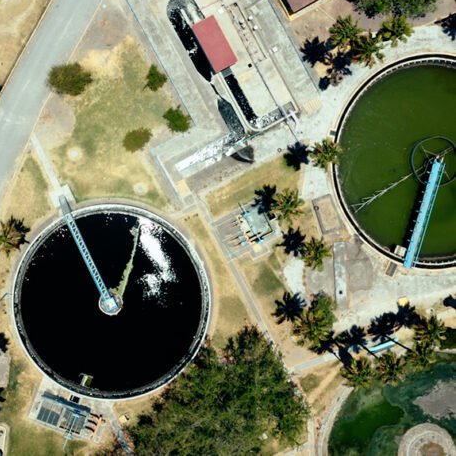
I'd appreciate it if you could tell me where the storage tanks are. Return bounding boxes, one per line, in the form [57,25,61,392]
[331,53,456,270]
[12,203,211,402]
